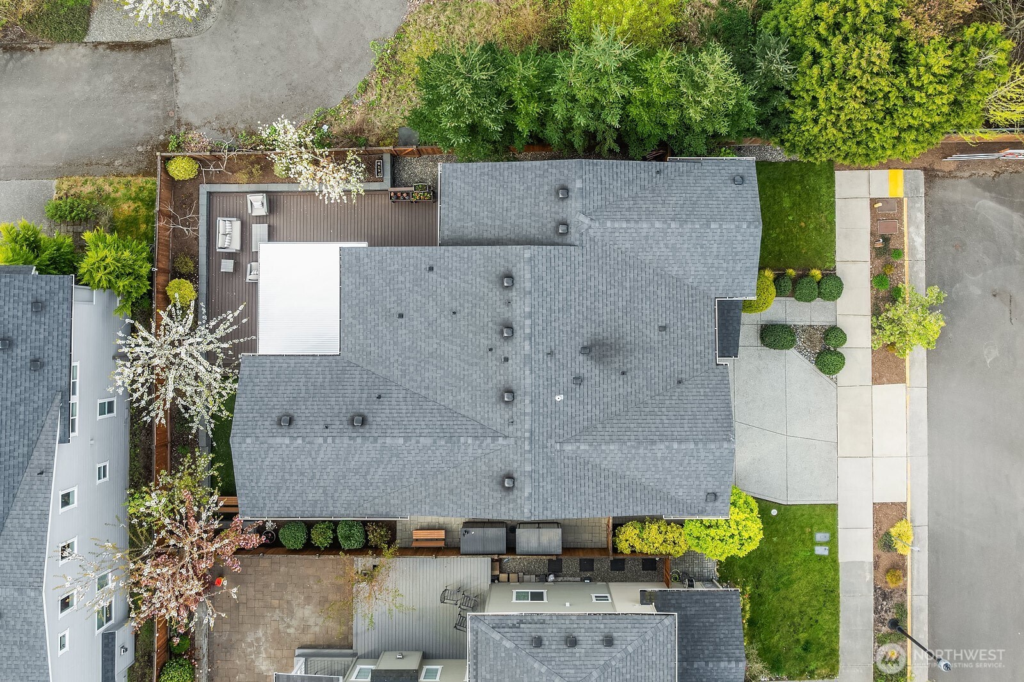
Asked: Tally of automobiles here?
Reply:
none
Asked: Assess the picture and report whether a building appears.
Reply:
Yes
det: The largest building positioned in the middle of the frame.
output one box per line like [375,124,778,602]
[230,155,763,526]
